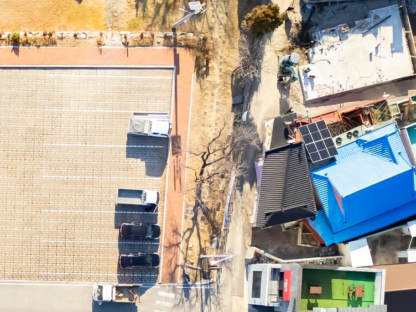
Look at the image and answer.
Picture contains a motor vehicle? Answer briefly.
Yes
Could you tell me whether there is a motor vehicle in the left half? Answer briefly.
Yes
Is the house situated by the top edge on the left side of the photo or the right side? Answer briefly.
right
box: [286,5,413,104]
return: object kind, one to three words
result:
house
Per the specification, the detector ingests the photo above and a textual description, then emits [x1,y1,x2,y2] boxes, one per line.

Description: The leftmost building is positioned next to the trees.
[247,113,317,228]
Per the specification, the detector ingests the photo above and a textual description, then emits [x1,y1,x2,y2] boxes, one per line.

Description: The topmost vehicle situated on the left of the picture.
[126,115,173,135]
